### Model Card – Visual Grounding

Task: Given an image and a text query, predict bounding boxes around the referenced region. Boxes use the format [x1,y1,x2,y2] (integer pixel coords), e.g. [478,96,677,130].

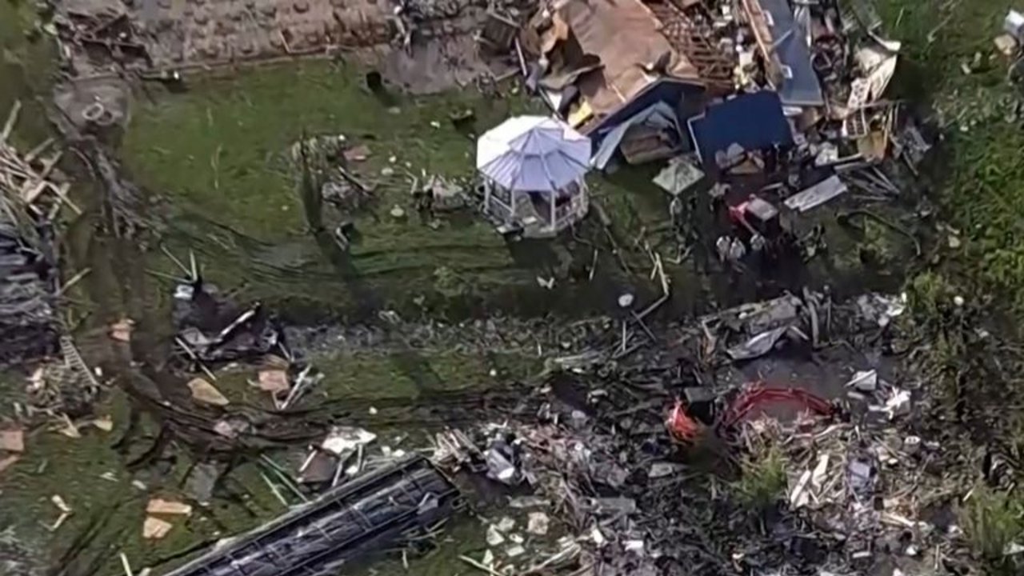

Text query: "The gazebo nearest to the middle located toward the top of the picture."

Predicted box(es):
[476,115,594,244]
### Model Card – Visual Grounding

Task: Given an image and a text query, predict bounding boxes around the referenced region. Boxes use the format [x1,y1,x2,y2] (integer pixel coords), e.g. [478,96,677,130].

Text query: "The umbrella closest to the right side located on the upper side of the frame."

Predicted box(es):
[652,157,705,197]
